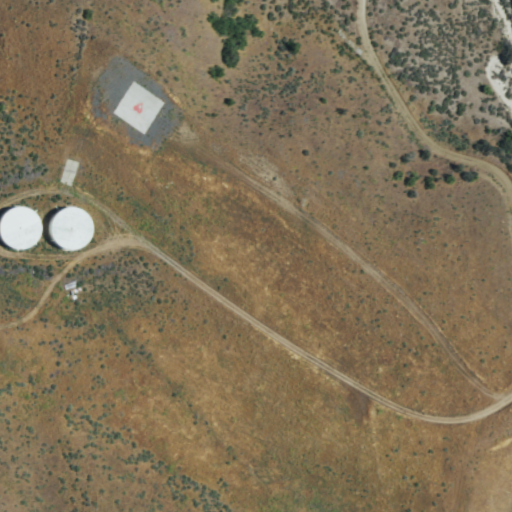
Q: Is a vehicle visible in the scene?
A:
No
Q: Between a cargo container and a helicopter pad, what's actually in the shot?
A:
helicopter pad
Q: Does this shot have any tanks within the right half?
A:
No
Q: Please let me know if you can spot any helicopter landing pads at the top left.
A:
Yes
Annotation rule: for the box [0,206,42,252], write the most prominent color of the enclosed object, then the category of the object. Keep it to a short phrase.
white storage tank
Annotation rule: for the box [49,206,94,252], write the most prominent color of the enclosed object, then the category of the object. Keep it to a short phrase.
white storage tank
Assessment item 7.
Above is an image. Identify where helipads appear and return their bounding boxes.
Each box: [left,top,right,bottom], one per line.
[90,56,181,149]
